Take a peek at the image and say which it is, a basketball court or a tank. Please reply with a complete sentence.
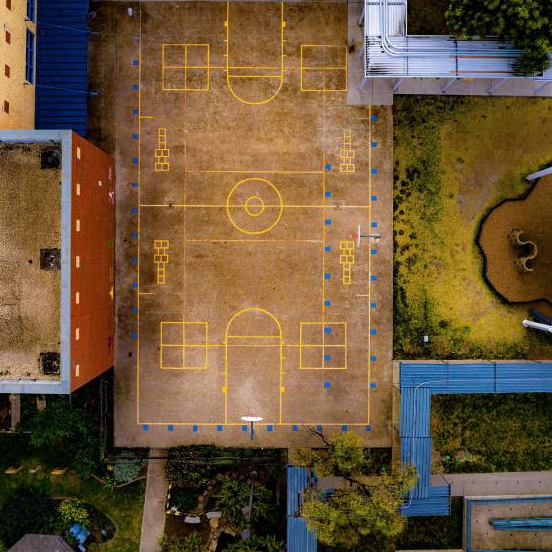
Looking from above, you can make out a basketball court.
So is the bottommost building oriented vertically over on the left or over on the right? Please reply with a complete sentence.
The bottommost building oriented vertically sits on the left side.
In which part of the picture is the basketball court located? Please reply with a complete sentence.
The basketball court is located in the center region of the scene.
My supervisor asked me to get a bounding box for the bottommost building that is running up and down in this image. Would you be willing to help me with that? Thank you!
[0,131,114,395]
